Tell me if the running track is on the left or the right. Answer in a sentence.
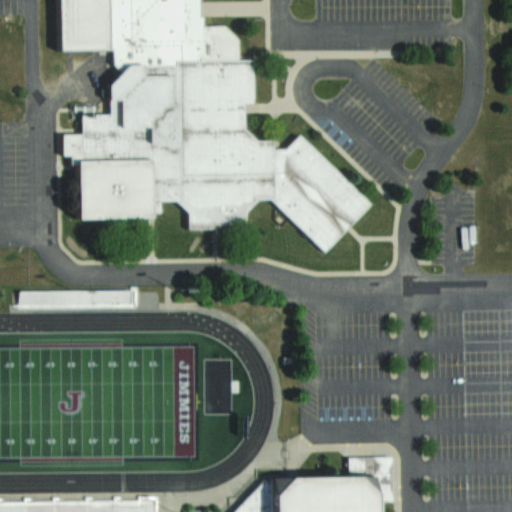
It is on the left.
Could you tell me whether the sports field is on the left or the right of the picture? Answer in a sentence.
The sports field appears in the left half of the scene.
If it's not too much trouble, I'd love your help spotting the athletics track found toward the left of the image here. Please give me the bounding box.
[0,313,273,492]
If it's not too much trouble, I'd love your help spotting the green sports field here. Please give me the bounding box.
[0,340,198,466]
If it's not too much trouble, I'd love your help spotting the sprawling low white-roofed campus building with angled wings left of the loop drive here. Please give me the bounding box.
[62,0,374,253]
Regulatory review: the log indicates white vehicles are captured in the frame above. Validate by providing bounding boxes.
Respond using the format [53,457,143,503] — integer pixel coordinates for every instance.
[470,226,476,246]
[462,226,469,252]
[454,378,464,384]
